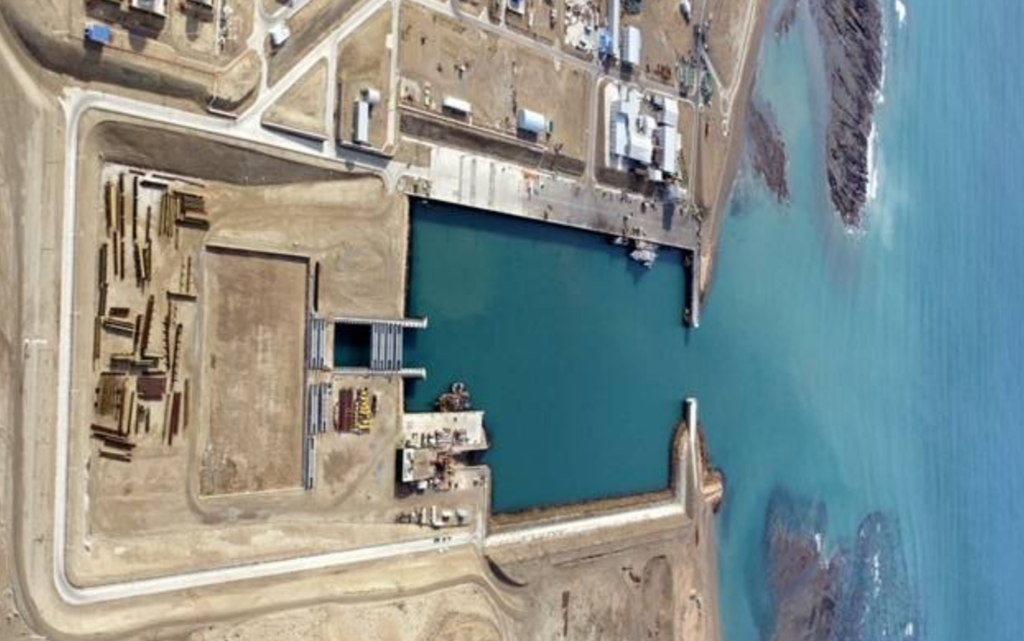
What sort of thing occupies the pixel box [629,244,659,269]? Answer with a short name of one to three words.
ship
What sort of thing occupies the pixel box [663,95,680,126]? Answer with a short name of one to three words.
building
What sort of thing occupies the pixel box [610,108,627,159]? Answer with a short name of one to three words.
building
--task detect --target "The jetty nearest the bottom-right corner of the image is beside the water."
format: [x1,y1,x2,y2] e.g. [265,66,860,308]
[686,398,698,472]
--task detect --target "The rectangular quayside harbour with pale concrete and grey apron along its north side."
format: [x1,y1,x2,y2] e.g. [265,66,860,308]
[397,147,700,411]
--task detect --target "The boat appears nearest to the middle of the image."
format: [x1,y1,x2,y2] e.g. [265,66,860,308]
[436,384,470,412]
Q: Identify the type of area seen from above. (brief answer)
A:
port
